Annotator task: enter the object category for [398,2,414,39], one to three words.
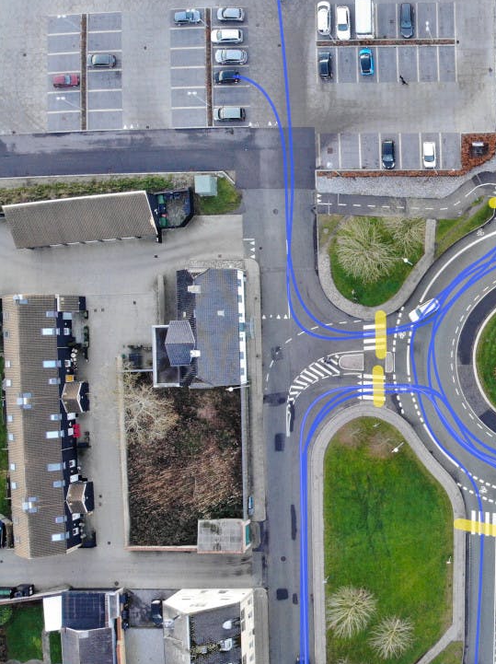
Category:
car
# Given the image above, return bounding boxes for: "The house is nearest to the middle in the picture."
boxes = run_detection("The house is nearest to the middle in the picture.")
[152,269,254,389]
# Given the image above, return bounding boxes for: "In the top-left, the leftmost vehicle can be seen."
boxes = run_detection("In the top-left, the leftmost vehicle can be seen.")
[53,71,81,89]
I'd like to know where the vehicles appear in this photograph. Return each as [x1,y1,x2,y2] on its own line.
[87,52,118,69]
[334,5,350,41]
[148,598,165,624]
[217,4,246,23]
[53,71,81,89]
[358,48,373,77]
[315,2,331,36]
[317,52,333,80]
[409,298,439,322]
[8,583,37,598]
[398,2,414,39]
[174,8,202,26]
[0,516,10,548]
[215,68,240,84]
[380,139,396,170]
[211,27,244,44]
[297,656,311,664]
[421,141,436,168]
[216,46,248,65]
[213,105,246,121]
